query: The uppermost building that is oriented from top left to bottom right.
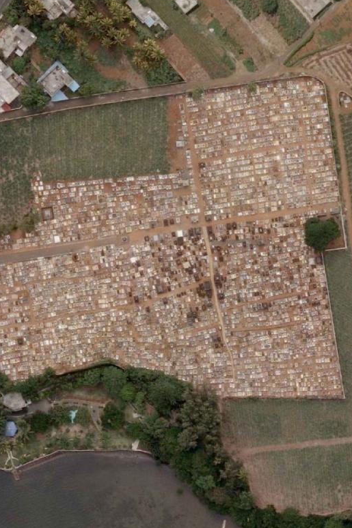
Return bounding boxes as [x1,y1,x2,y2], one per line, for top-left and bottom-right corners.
[125,0,168,29]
